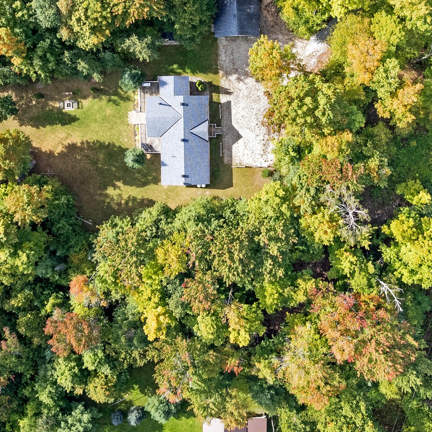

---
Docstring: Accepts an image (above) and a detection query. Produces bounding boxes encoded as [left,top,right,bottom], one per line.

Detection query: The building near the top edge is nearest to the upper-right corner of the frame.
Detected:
[215,0,259,38]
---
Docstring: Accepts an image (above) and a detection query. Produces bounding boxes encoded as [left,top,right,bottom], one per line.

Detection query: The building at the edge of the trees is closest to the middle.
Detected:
[129,75,221,185]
